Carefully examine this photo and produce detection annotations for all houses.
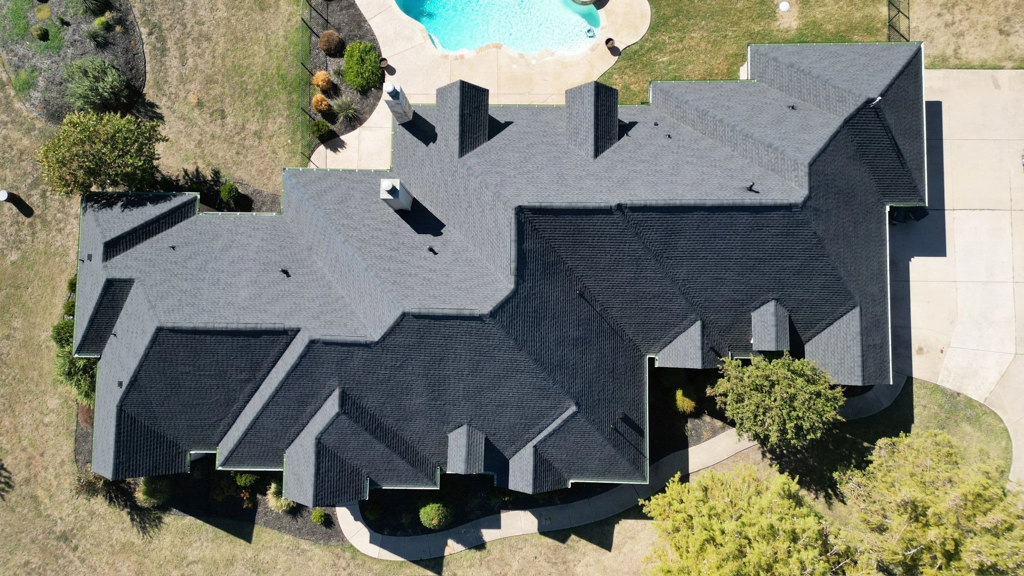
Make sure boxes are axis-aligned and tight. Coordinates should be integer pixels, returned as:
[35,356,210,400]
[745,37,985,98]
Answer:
[71,40,929,508]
